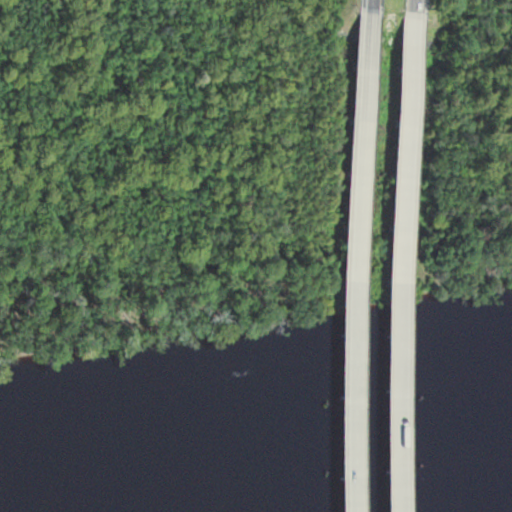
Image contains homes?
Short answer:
No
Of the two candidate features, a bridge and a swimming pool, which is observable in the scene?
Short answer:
bridge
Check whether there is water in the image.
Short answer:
Yes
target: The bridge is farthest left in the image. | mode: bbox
[341,12,381,512]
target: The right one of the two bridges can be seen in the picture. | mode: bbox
[386,12,427,512]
